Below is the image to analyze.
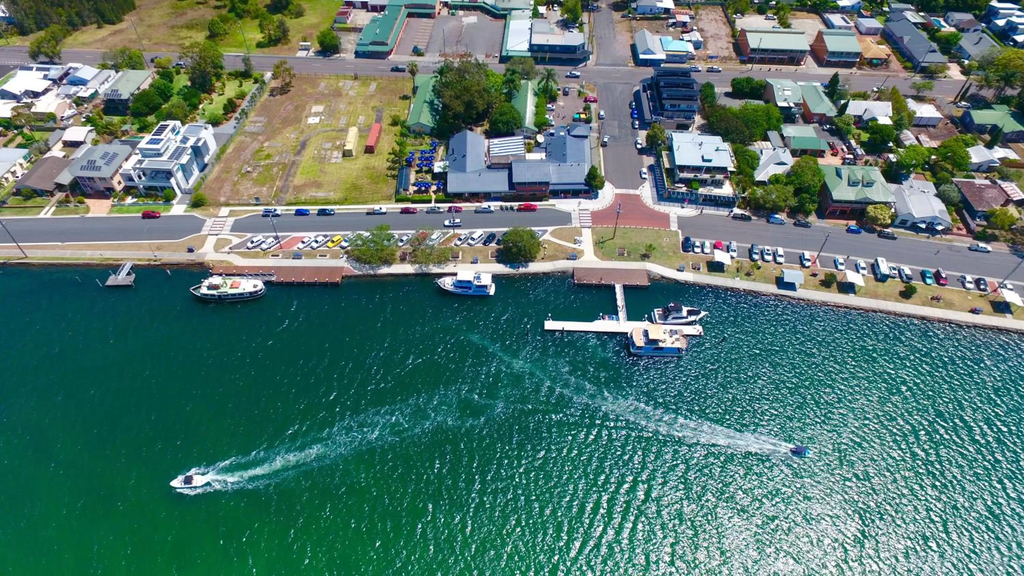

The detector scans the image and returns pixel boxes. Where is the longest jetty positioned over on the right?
[545,313,703,337]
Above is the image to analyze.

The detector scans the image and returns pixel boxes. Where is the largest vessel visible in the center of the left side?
[182,272,267,299]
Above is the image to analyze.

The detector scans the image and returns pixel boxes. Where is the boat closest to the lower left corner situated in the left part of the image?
[168,473,204,486]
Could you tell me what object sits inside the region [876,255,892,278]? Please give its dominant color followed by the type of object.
white camper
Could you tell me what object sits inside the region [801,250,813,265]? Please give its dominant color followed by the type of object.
white vehicle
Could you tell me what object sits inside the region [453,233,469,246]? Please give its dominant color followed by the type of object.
white vehicle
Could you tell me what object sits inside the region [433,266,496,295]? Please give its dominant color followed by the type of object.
white boat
